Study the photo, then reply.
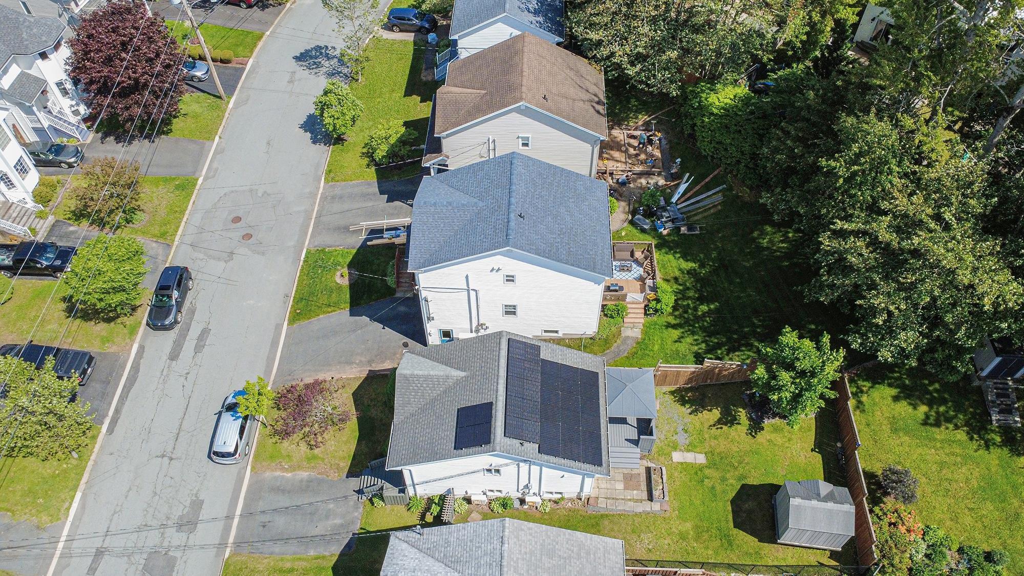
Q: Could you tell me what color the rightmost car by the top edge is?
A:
blue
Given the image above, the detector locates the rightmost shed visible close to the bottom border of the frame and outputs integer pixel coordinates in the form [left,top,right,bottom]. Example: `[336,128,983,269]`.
[773,485,859,553]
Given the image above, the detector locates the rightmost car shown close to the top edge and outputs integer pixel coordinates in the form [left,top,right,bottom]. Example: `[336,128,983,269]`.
[384,4,436,31]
